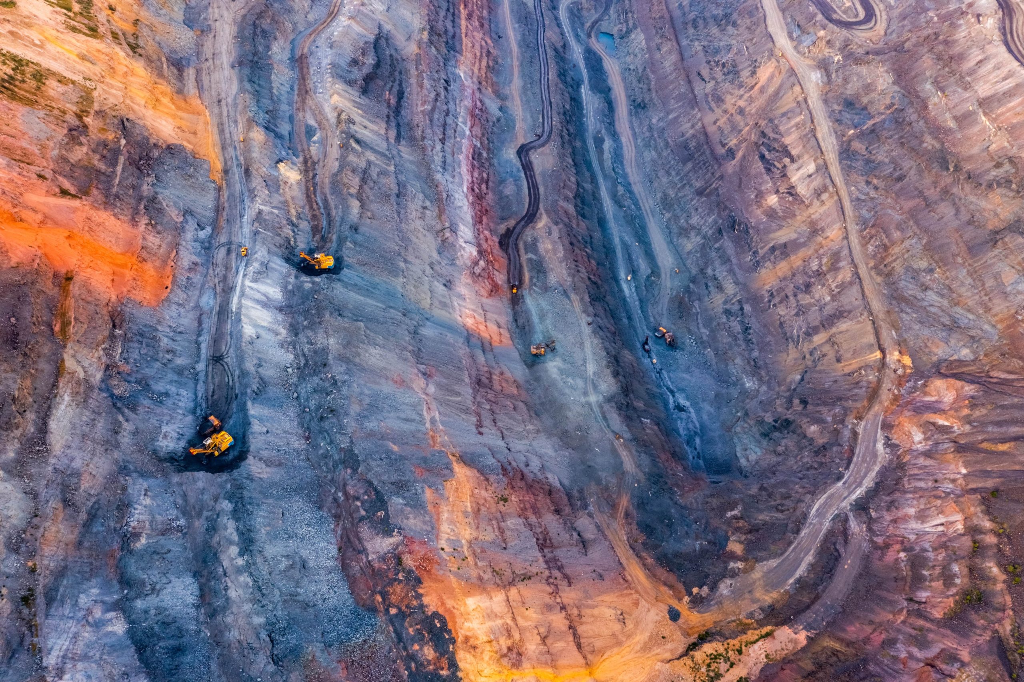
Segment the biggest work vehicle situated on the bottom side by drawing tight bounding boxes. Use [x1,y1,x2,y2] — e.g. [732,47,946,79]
[178,428,227,458]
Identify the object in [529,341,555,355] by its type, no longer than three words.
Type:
work vehicle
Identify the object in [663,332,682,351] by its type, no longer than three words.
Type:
work vehicle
